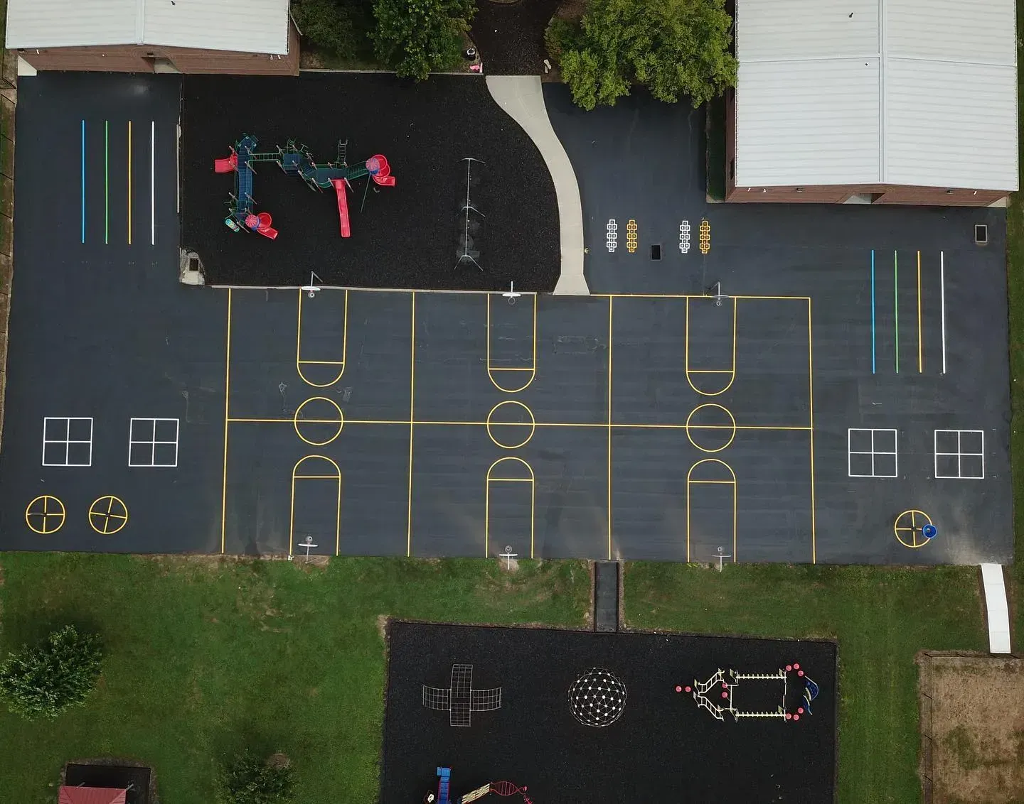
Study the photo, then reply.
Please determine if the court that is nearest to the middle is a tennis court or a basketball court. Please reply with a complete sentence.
The court that is nearest to the middle is a basketball court.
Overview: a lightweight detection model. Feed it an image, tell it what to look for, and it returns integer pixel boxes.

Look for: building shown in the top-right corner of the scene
[722,0,1020,206]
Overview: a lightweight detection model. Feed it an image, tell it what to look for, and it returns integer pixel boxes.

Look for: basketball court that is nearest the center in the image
[409,292,611,561]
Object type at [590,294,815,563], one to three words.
basketball court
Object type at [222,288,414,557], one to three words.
basketball court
